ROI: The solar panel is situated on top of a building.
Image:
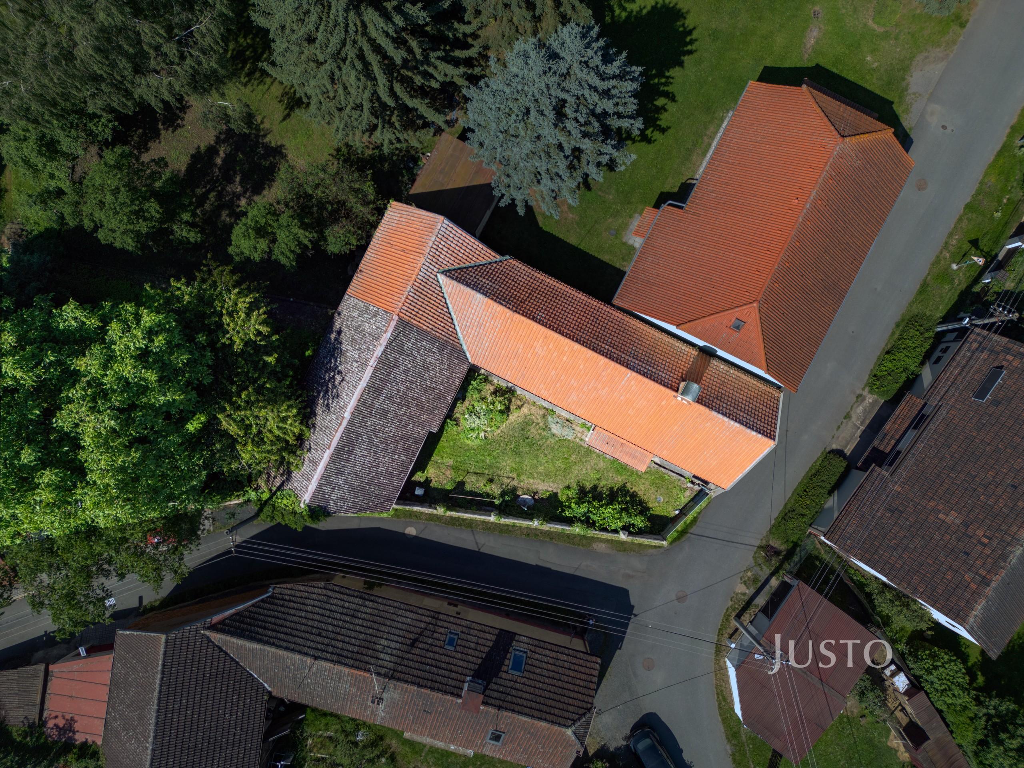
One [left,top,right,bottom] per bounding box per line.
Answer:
[971,365,1005,402]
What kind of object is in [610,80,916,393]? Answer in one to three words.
house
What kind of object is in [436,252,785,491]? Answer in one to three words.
house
